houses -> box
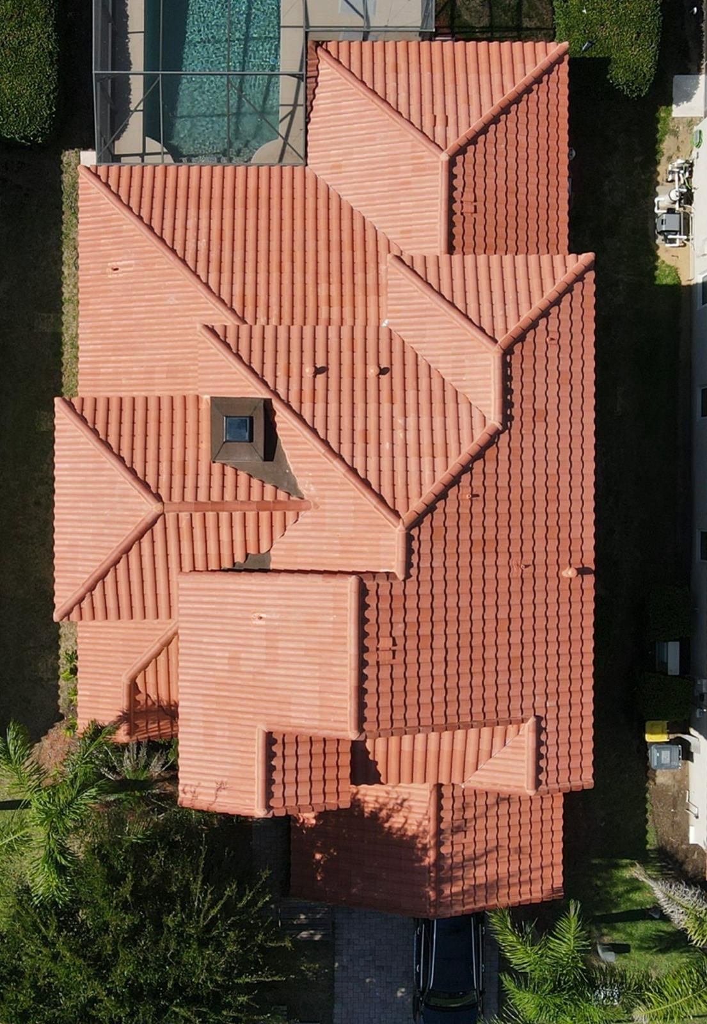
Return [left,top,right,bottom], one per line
[688,109,707,863]
[51,39,599,923]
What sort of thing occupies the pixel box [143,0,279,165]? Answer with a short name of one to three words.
swimming pool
